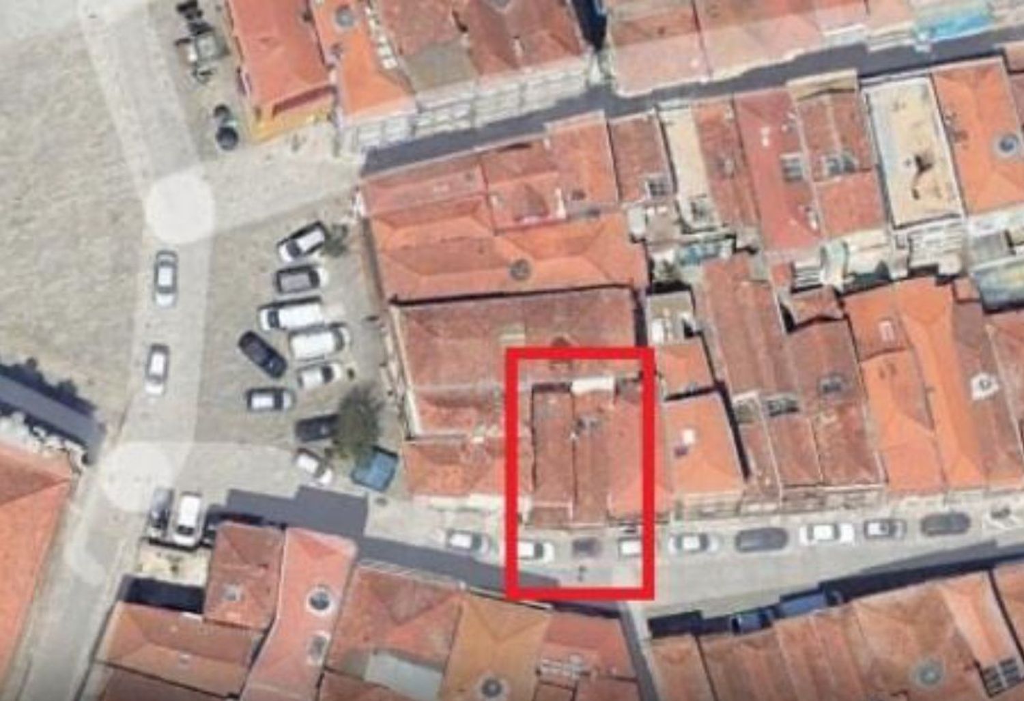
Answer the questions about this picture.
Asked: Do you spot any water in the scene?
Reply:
No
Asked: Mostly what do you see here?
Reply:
buildings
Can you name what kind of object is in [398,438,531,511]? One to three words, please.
house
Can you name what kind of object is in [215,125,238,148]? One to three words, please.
umbrella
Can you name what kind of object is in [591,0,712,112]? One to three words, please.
house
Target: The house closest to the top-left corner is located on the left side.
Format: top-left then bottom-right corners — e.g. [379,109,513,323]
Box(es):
[215,0,334,140]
